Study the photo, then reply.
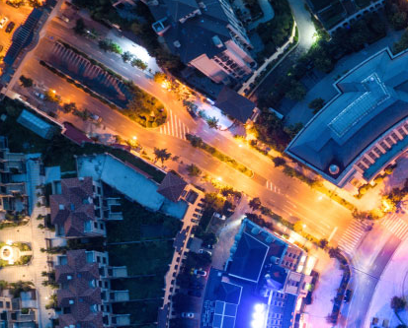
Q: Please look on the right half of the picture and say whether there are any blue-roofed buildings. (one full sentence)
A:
Yes, a blue-roofed building appears on the right half of the picture.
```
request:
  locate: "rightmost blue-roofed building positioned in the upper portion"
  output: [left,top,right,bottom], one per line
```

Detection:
[284,46,408,194]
